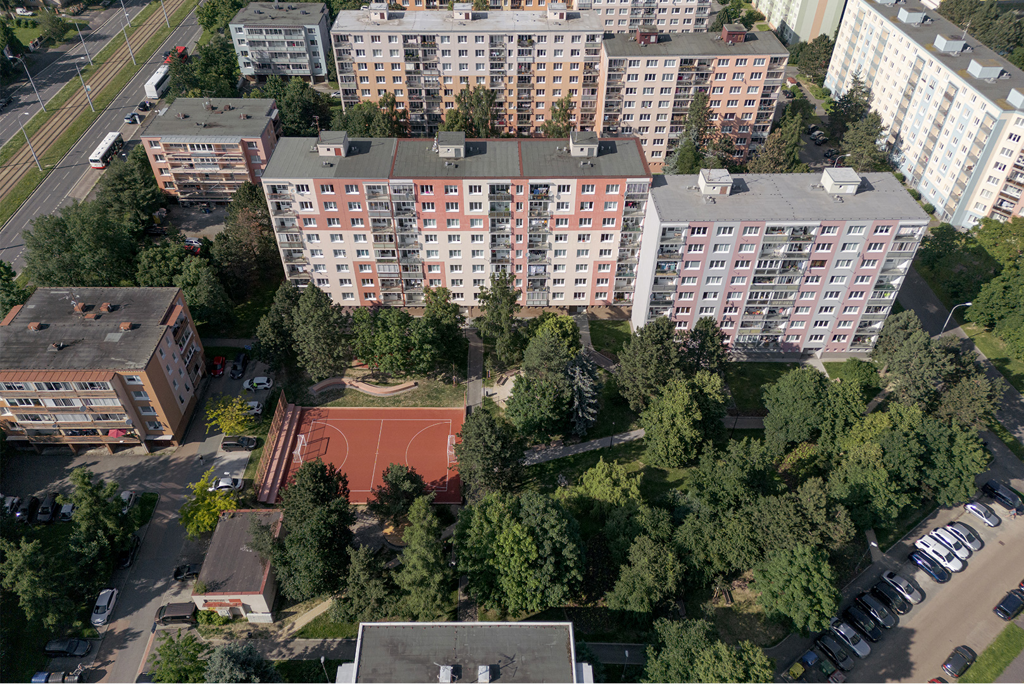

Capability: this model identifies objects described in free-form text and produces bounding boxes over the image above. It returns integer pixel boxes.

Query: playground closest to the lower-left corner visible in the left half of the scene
[352,507,409,555]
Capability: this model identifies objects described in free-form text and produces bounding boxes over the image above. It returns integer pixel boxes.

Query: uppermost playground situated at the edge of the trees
[493,370,528,405]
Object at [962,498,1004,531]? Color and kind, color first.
gray car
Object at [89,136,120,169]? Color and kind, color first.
white bus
